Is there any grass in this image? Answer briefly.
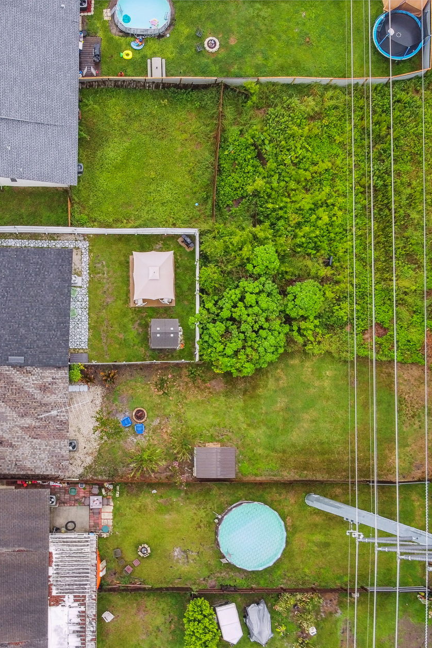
Yes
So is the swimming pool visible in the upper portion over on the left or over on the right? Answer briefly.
left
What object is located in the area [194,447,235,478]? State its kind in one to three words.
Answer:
shed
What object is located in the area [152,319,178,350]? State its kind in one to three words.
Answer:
shed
